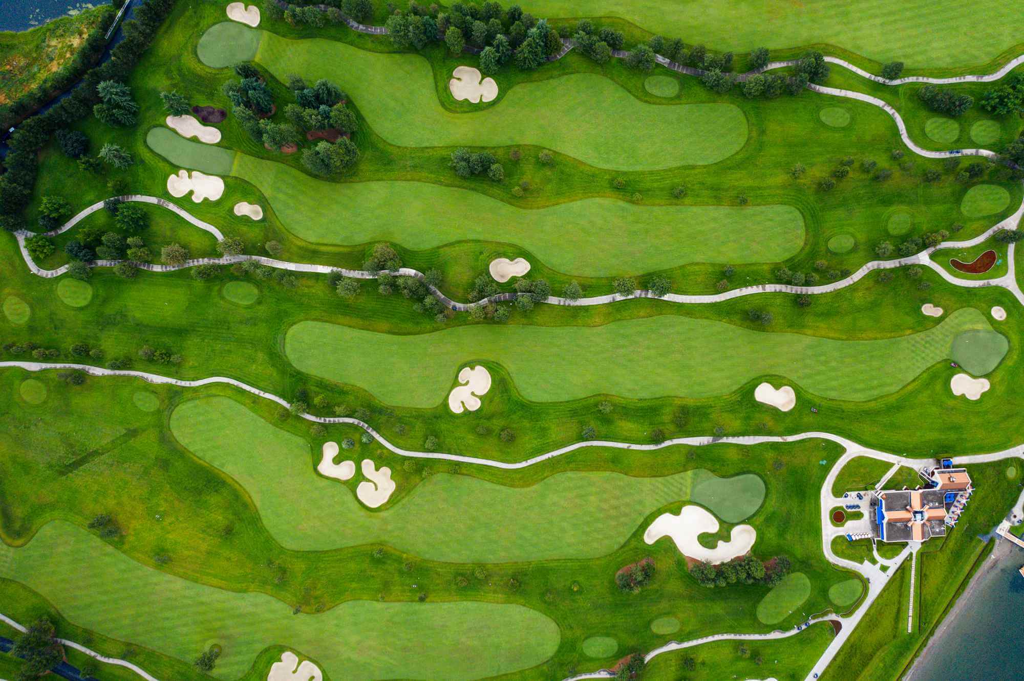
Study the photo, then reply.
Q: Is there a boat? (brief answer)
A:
No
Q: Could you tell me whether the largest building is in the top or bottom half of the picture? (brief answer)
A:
bottom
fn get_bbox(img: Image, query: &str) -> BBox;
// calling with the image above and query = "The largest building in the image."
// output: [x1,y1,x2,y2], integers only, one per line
[871,466,973,543]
